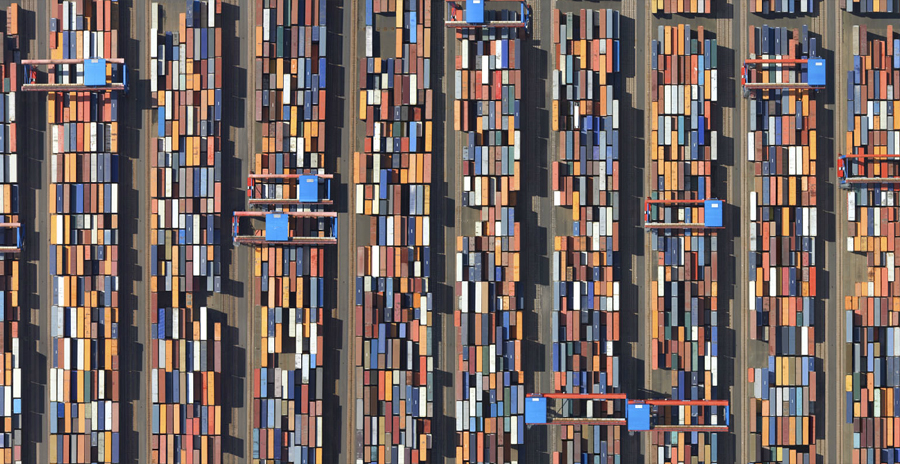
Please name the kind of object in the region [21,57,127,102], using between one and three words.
container crane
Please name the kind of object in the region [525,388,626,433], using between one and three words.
container crane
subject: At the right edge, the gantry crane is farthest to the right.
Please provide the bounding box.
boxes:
[835,152,900,194]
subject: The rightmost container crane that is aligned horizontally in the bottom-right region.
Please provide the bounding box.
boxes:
[626,395,729,439]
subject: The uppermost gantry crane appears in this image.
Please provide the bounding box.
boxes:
[444,0,524,40]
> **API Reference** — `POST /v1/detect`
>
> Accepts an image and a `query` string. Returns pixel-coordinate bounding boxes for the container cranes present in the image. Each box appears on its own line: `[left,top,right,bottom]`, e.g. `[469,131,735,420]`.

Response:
[641,197,725,239]
[234,209,338,254]
[0,220,24,254]
[21,57,127,102]
[525,388,626,433]
[835,152,900,194]
[444,0,524,40]
[626,395,729,439]
[741,58,826,101]
[249,171,333,212]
